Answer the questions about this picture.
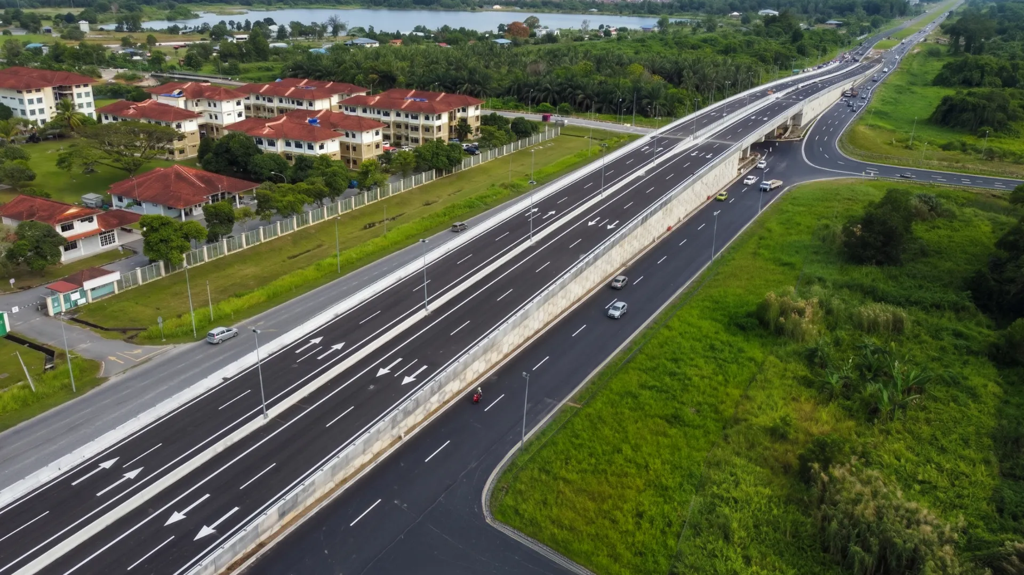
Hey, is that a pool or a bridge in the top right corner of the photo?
bridge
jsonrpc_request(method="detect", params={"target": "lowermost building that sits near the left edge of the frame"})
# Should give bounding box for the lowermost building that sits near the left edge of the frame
[38,266,122,316]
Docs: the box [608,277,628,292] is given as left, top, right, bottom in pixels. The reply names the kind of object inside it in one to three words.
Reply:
car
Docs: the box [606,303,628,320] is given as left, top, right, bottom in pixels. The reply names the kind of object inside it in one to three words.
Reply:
car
